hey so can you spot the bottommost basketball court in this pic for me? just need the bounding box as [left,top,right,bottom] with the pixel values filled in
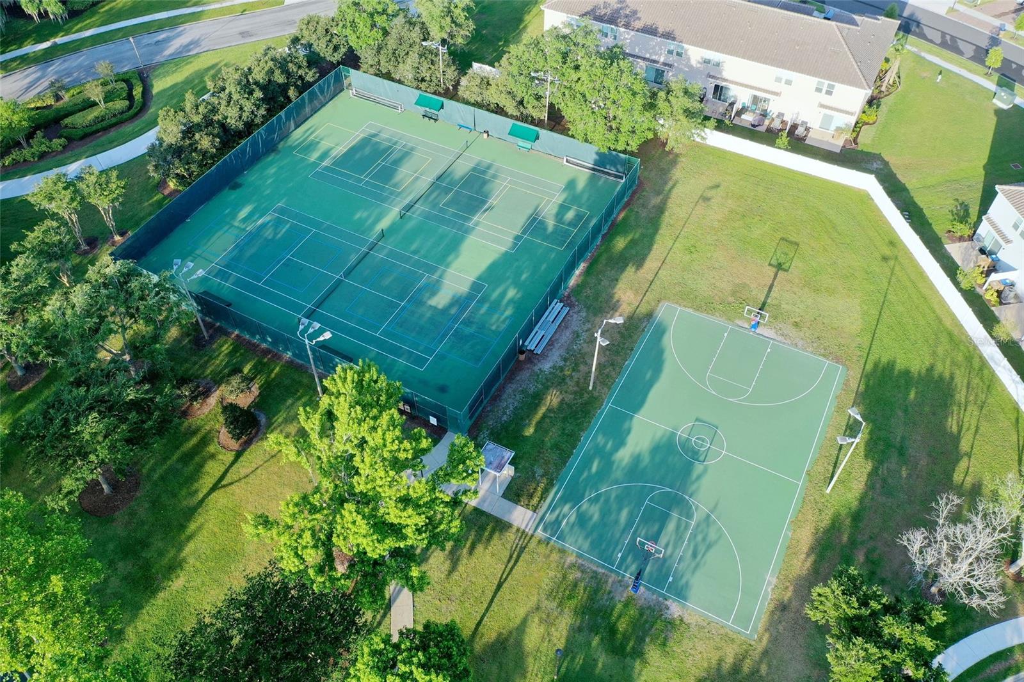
[528,298,849,641]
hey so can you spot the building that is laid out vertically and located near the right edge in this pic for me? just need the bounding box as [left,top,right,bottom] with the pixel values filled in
[974,183,1024,305]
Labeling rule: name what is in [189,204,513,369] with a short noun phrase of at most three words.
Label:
tennis court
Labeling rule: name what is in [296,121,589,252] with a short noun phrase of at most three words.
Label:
tennis court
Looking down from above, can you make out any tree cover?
Yes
